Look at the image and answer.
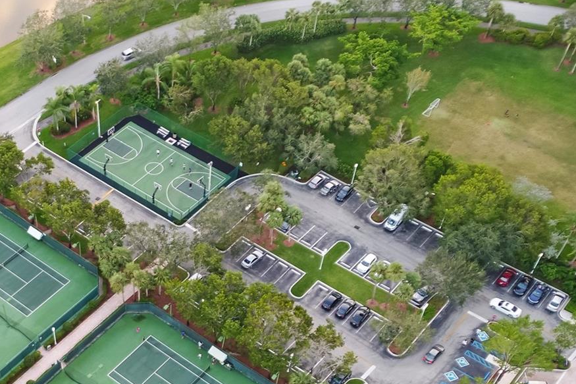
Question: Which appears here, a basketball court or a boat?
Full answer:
I can see a basketball court in this picture.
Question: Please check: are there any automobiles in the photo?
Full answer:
Yes, the image includes an automobile.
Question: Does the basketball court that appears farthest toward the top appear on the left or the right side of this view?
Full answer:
The basketball court that appears farthest toward the top is on the left side of the image.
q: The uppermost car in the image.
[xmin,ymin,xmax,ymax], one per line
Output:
[118,47,136,60]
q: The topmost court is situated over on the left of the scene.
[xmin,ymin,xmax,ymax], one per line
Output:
[71,117,244,225]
